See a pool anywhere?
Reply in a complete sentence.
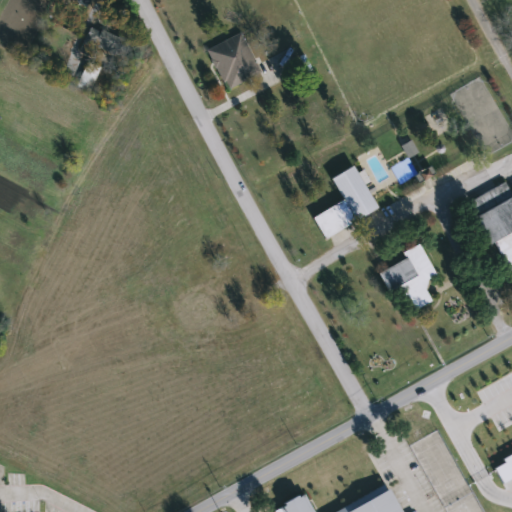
Yes, a pool appears in the view.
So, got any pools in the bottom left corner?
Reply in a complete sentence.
No, there is no pool in the bottom left corner.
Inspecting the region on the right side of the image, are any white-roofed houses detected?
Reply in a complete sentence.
Yes, I can see a white-roofed house on the right side of the image.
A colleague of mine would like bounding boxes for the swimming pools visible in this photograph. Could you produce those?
[358,148,394,194]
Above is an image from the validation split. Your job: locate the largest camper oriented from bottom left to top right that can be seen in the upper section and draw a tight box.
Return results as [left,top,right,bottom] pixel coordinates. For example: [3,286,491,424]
[278,47,294,66]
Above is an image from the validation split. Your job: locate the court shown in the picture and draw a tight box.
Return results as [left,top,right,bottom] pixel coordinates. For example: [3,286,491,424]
[450,76,512,156]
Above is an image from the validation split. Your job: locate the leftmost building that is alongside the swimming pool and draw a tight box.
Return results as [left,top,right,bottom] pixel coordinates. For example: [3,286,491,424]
[314,166,380,239]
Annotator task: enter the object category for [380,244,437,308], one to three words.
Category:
house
